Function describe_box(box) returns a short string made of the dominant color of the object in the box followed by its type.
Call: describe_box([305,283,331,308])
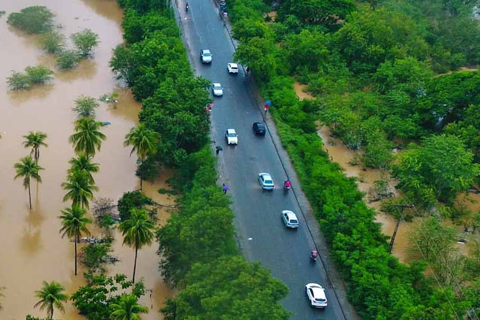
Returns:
white car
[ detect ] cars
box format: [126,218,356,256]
[279,210,299,229]
[200,49,213,62]
[251,121,266,135]
[257,173,274,190]
[305,283,331,308]
[210,83,224,97]
[227,63,239,74]
[223,125,239,145]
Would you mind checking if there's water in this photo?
Yes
